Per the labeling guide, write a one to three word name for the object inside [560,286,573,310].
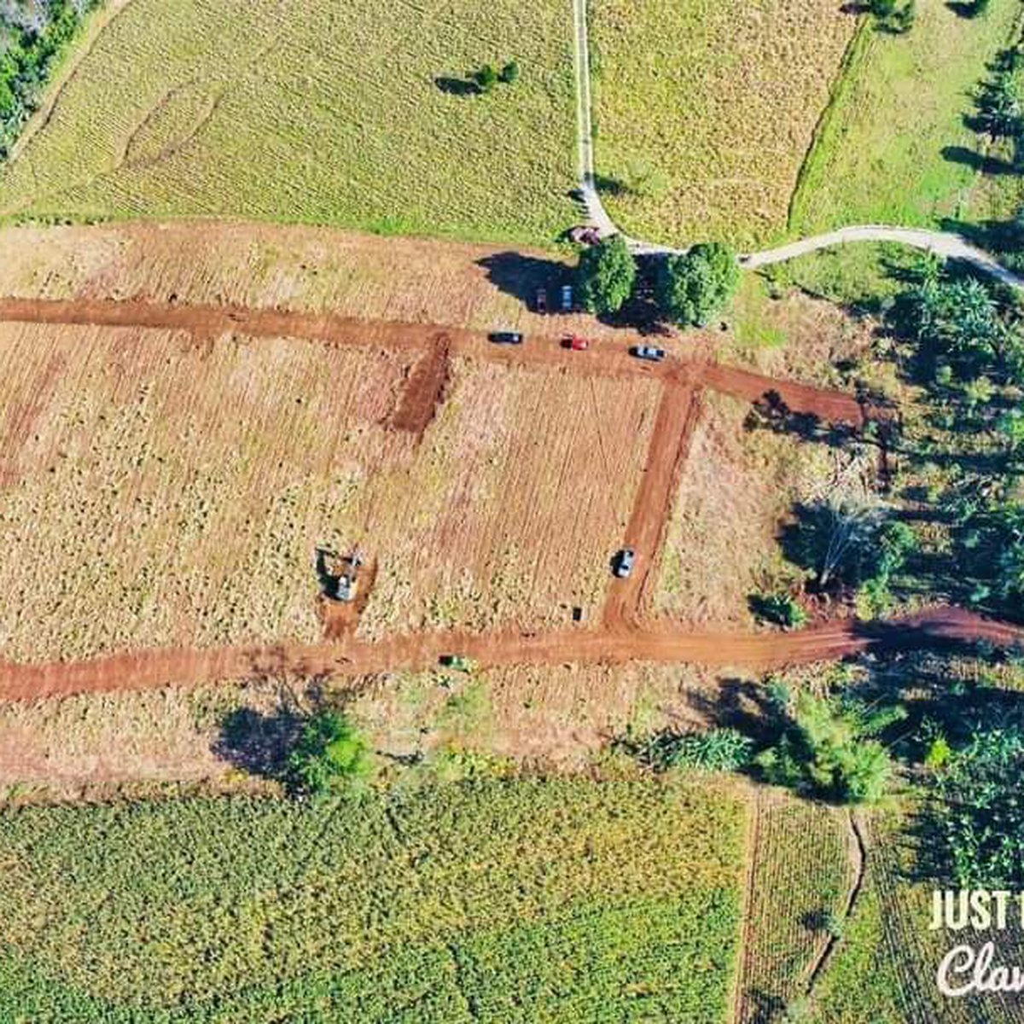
vehicle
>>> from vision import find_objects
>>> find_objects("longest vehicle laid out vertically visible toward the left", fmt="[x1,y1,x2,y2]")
[340,552,358,599]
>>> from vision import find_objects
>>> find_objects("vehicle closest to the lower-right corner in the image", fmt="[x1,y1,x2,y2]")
[618,547,637,578]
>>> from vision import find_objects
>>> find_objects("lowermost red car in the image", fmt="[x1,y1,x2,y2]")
[566,339,587,351]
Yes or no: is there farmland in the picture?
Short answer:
Yes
